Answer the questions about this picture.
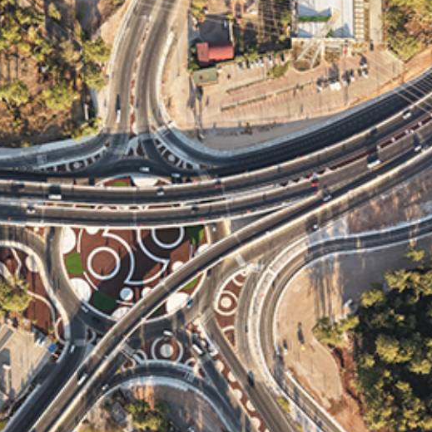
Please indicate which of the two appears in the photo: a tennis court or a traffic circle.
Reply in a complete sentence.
This aerial view contains a traffic circle.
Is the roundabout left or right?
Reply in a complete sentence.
The roundabout is on the left side of the image.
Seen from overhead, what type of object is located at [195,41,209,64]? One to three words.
house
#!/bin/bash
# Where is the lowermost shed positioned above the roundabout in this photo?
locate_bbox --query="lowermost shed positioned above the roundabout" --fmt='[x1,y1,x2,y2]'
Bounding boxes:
[193,68,219,83]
